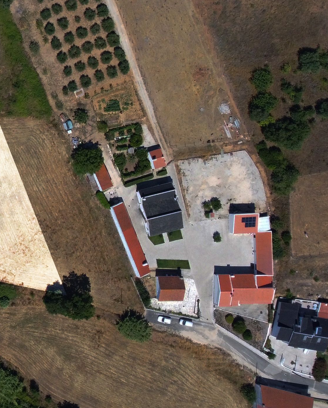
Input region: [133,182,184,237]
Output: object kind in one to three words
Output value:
house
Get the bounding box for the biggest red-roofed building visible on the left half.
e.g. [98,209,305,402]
[109,202,151,278]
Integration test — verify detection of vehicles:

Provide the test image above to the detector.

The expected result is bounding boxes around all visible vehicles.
[178,318,193,327]
[157,315,171,323]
